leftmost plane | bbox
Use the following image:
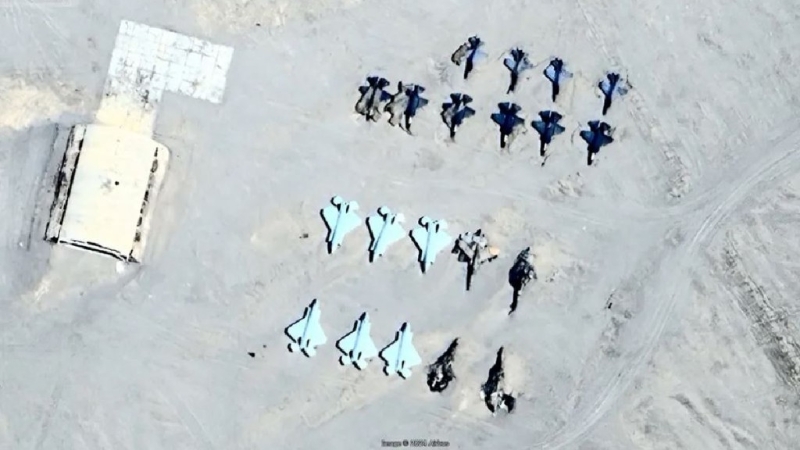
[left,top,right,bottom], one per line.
[288,301,327,358]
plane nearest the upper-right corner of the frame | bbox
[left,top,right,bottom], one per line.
[598,72,627,114]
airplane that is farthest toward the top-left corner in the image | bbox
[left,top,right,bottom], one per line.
[355,74,391,122]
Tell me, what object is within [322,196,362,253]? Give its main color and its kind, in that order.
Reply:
white airplane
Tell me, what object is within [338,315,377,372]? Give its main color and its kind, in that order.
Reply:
white airplane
